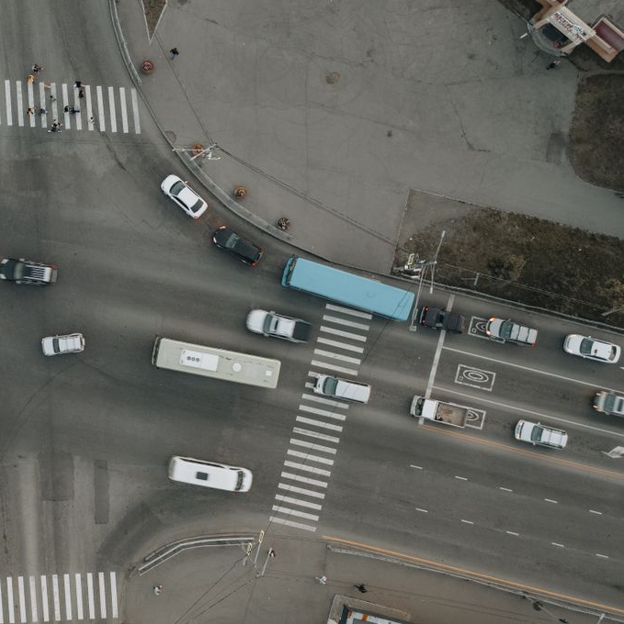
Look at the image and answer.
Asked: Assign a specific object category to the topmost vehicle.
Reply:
automobile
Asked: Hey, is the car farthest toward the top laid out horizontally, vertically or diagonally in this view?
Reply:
diagonally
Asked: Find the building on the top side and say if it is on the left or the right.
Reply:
right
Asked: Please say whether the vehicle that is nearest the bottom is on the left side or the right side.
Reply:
left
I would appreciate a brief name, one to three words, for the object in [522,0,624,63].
building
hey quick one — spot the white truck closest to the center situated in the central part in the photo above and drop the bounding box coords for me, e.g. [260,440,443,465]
[244,313,313,343]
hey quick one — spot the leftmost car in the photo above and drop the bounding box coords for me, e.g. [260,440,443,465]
[0,259,58,285]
